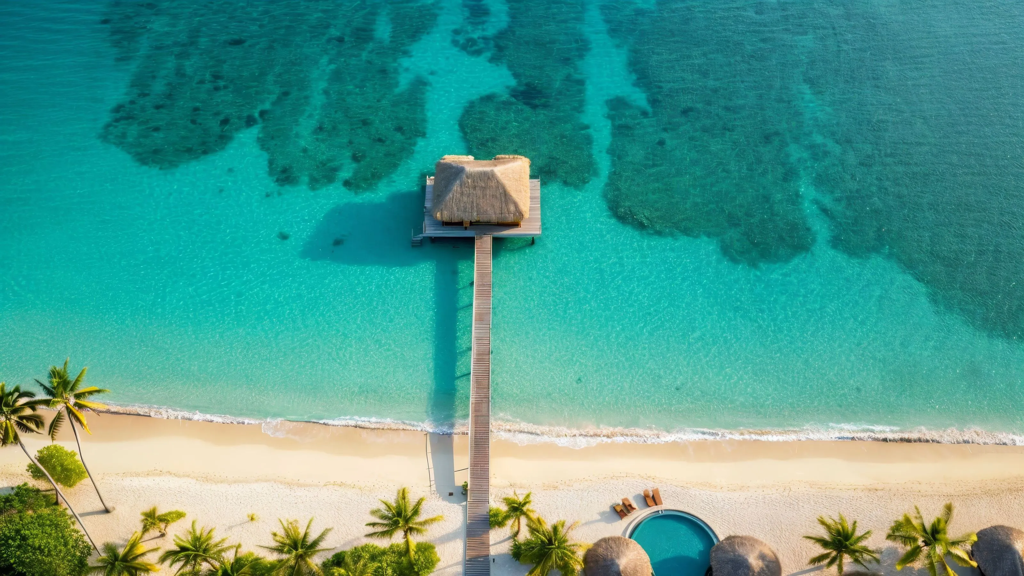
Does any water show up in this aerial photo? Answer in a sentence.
Yes, there's water in this view.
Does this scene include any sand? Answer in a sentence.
Yes, sand can be seen from above here.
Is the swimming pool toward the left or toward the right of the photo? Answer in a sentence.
The swimming pool is on the right side of the image.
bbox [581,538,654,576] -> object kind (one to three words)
umbrella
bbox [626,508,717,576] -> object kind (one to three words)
swimming pool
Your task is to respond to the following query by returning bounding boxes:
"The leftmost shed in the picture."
[423,153,542,250]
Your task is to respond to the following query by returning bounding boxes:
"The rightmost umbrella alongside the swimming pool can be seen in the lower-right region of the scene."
[707,536,784,576]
